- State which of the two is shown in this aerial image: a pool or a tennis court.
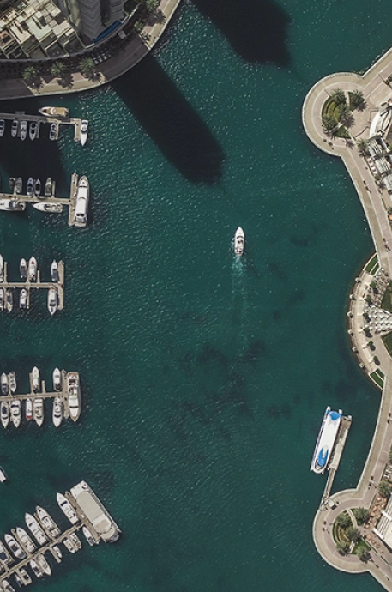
pool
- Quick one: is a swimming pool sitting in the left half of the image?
Yes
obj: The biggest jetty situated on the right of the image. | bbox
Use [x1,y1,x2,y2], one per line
[330,416,351,469]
